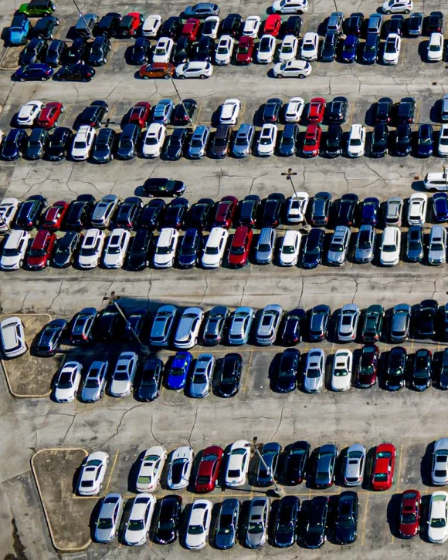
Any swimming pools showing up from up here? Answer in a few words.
No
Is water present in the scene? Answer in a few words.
No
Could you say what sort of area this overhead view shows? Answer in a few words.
parking lot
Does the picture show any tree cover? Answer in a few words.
No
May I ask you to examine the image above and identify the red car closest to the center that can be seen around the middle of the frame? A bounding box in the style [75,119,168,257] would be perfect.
[226,224,252,266]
